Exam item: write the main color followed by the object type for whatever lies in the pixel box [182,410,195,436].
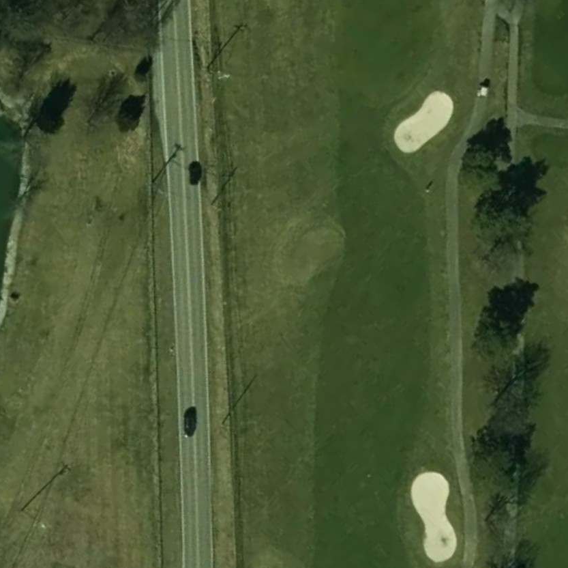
black vehicle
